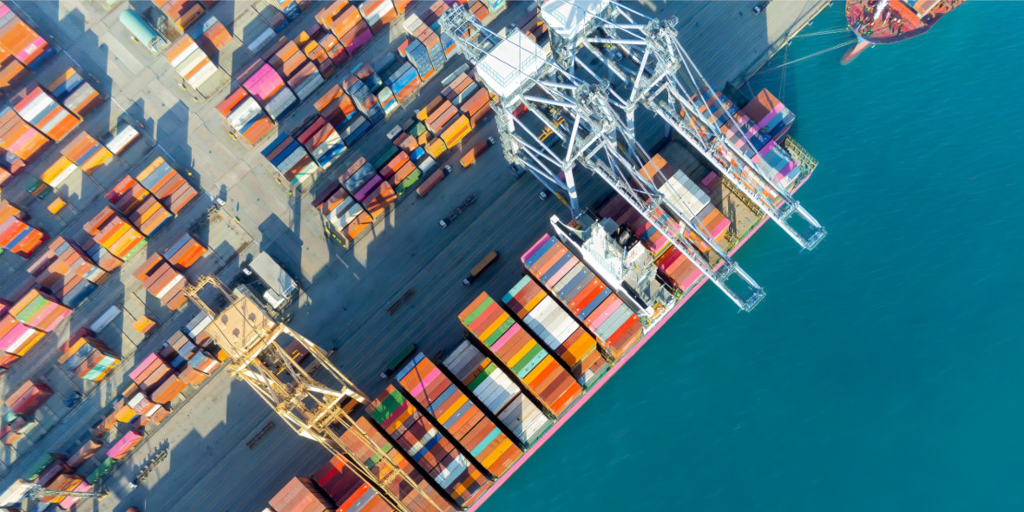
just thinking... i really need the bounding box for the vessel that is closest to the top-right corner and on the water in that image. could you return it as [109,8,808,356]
[842,0,965,63]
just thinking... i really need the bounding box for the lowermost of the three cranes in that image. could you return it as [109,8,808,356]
[184,260,426,512]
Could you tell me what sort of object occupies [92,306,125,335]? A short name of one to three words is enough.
shipping container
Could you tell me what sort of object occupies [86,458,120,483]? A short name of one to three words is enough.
shipping container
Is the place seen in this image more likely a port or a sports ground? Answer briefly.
port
